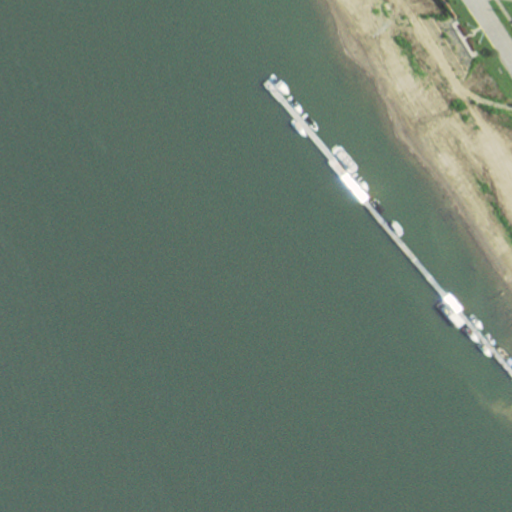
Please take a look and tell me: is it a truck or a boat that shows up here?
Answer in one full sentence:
Looking from above, you can make out a boat.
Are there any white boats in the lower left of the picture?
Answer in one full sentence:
No, no white boat can be made out in the lower left of the picture.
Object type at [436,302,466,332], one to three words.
boat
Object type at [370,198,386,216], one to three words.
boat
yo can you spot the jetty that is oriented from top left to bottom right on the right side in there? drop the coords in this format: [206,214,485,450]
[260,76,512,376]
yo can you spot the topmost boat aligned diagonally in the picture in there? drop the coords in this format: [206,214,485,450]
[268,70,290,96]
